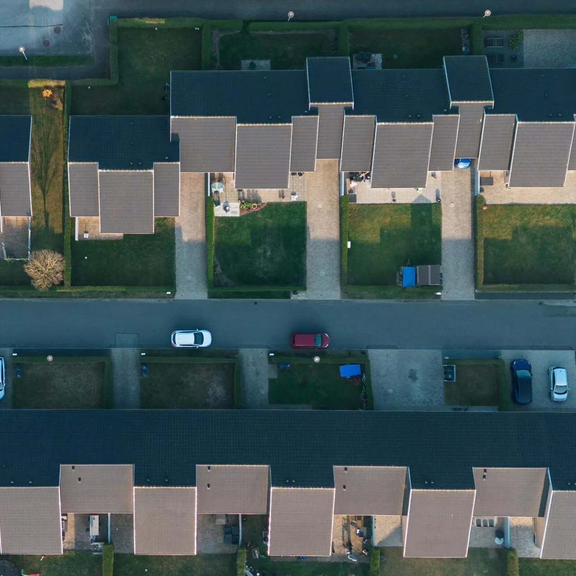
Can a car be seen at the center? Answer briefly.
Yes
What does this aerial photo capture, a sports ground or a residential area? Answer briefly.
residential area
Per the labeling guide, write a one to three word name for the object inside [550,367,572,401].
car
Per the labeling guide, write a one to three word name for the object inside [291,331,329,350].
car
